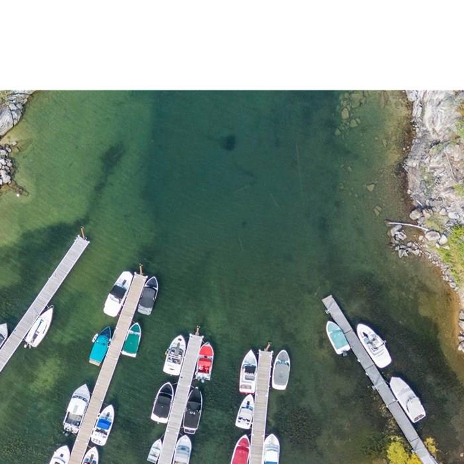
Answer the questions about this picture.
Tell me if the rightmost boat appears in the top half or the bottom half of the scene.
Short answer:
bottom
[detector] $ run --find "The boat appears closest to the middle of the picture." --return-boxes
[136,276,158,317]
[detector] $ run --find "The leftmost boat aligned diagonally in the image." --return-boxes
[25,306,54,350]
